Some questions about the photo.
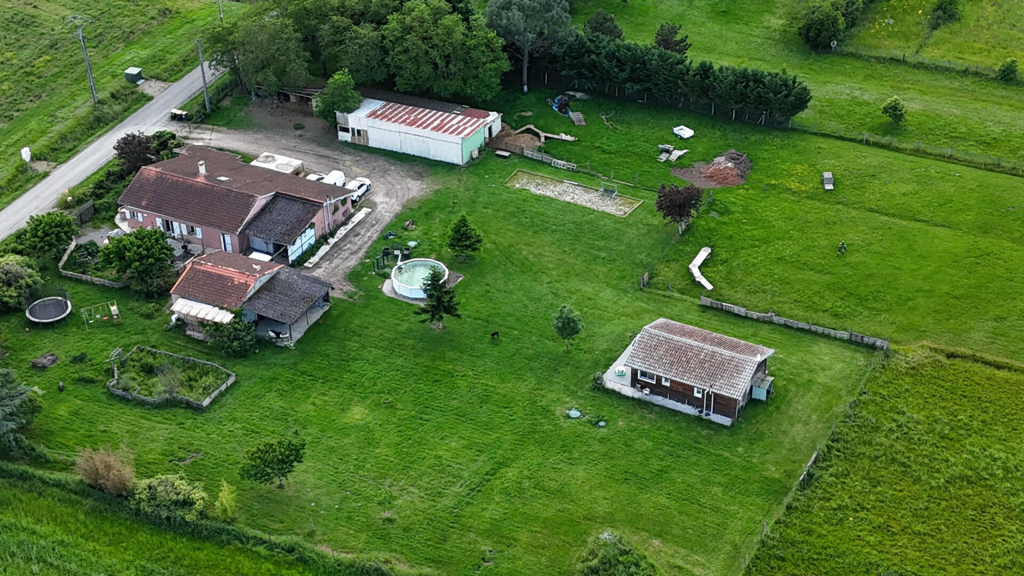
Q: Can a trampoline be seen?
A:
Yes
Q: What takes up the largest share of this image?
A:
grass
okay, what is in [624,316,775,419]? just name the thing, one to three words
building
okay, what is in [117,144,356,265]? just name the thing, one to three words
house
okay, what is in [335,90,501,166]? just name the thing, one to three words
barn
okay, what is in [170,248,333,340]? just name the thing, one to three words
shed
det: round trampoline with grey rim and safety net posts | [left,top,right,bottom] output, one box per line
[21,282,74,330]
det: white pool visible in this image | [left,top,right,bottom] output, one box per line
[390,258,450,300]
